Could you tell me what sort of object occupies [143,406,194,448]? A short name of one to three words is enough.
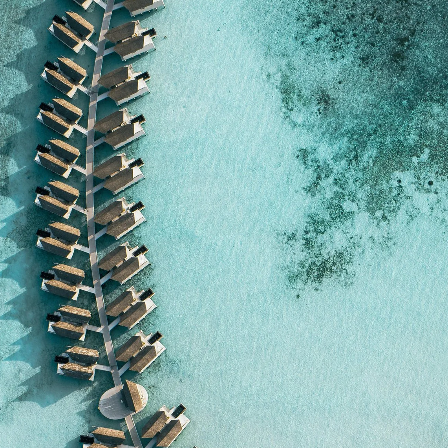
house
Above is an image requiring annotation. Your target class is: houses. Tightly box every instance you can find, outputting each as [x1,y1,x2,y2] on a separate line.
[98,242,153,287]
[103,20,158,66]
[35,96,86,144]
[93,196,150,242]
[91,152,147,198]
[38,262,87,304]
[105,286,161,332]
[93,108,150,153]
[97,63,153,109]
[46,10,98,59]
[143,406,194,448]
[34,220,84,264]
[47,304,93,344]
[32,178,83,224]
[56,345,102,382]
[84,426,127,448]
[32,137,84,182]
[122,0,168,22]
[38,55,91,104]
[115,331,169,375]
